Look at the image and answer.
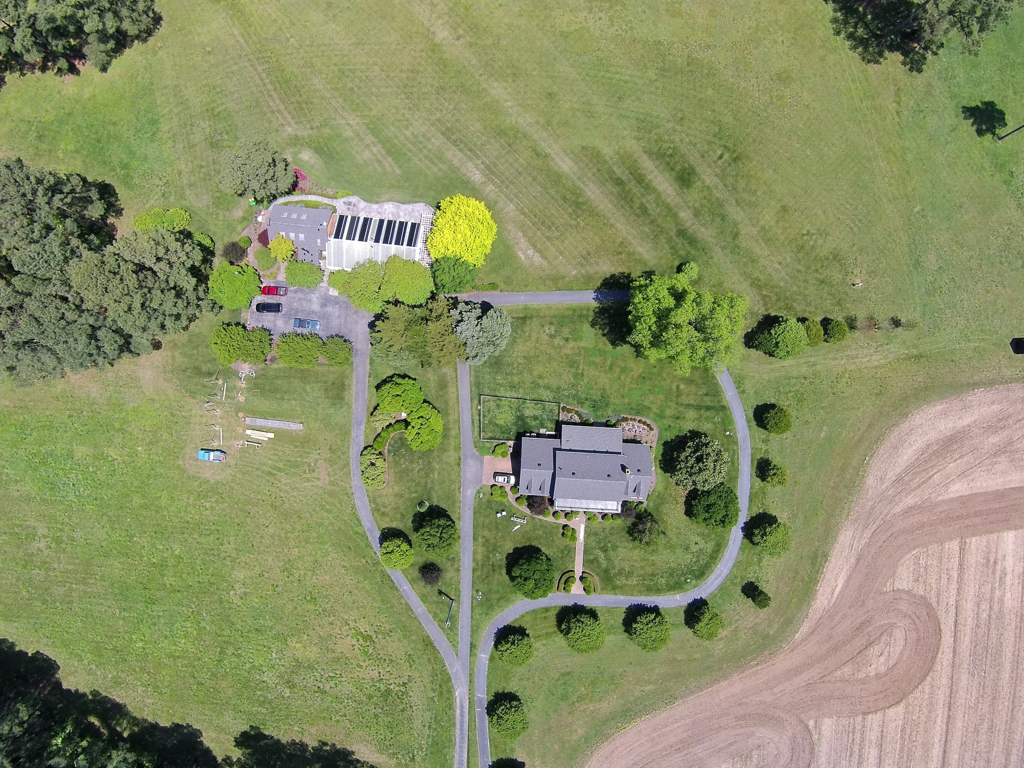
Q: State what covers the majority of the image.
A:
grass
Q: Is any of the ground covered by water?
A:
No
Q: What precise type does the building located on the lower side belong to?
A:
home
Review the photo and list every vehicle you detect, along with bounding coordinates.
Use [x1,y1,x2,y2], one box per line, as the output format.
[196,450,225,462]
[292,318,320,330]
[255,301,282,313]
[493,474,516,484]
[261,284,288,296]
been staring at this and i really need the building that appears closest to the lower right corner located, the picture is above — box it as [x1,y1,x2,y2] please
[519,421,653,513]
